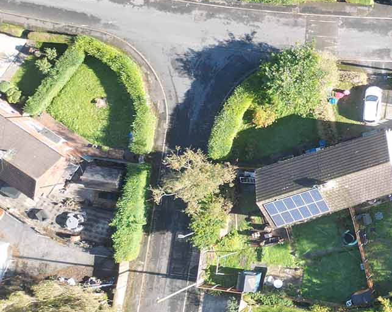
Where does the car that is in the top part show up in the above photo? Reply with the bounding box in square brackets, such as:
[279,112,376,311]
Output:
[363,85,384,125]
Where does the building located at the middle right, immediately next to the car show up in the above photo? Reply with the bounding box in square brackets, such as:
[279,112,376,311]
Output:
[255,129,392,230]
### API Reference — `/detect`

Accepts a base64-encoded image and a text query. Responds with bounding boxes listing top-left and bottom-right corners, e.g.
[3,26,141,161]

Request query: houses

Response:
[255,129,392,230]
[0,104,91,201]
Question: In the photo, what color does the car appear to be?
white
